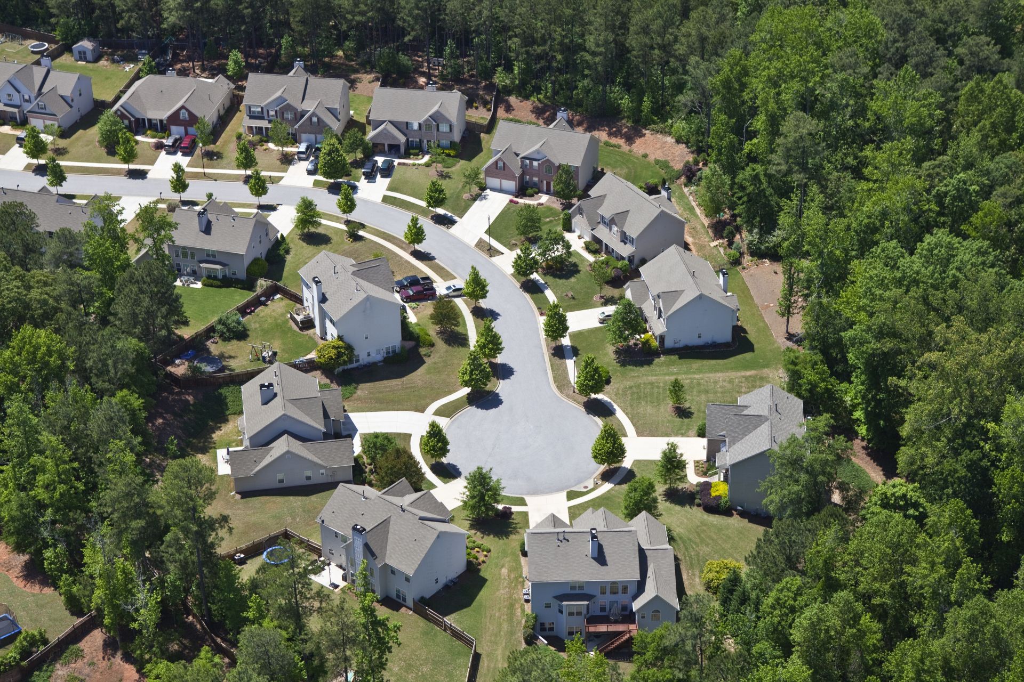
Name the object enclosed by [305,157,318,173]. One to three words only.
vehicle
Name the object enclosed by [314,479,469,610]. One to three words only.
house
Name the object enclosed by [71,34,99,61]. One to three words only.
shed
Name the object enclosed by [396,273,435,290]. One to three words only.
vehicle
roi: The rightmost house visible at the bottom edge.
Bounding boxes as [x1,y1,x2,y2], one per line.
[526,507,680,659]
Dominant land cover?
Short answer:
trees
